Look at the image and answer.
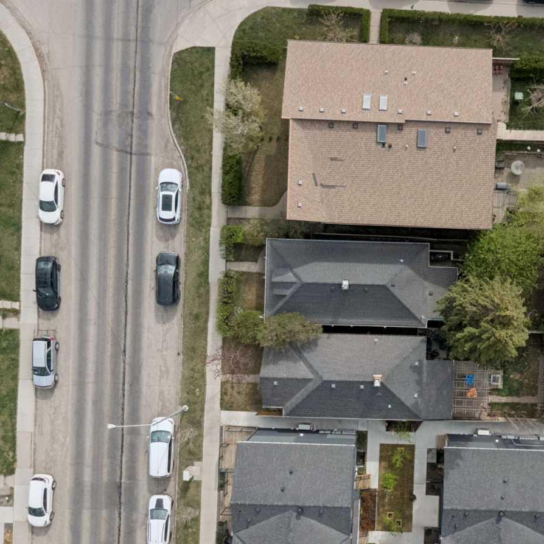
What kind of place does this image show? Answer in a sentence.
It's a residential area.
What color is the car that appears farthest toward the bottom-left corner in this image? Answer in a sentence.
The car that appears farthest toward the bottom-left corner looks white in the image.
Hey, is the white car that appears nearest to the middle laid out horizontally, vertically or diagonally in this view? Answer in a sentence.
The white car that appears nearest to the middle is laid out vertically.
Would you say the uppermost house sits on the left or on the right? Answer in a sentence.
The uppermost house appears in the right half of the scene.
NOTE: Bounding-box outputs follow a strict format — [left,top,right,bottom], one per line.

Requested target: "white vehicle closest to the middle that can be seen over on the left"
[154,169,183,225]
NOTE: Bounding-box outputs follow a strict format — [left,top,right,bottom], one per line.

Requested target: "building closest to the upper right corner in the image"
[282,39,496,229]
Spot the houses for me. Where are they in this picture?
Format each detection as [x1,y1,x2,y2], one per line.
[264,238,457,329]
[438,434,544,544]
[260,332,453,420]
[230,428,360,544]
[282,39,496,229]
